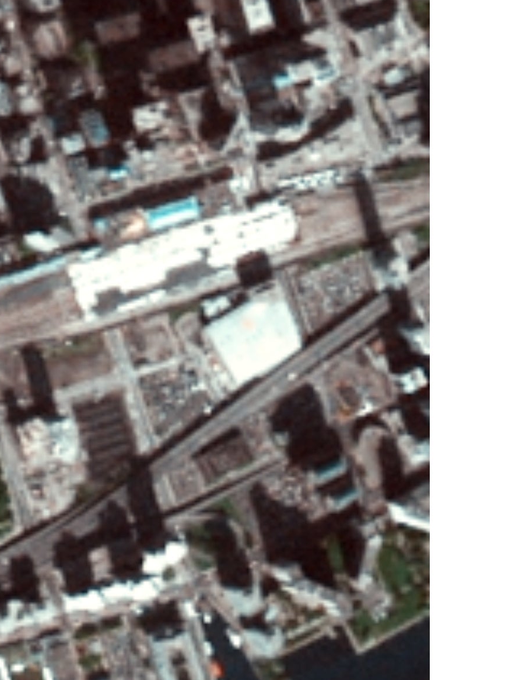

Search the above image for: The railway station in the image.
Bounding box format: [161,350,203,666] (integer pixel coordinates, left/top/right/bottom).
[0,186,297,319]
